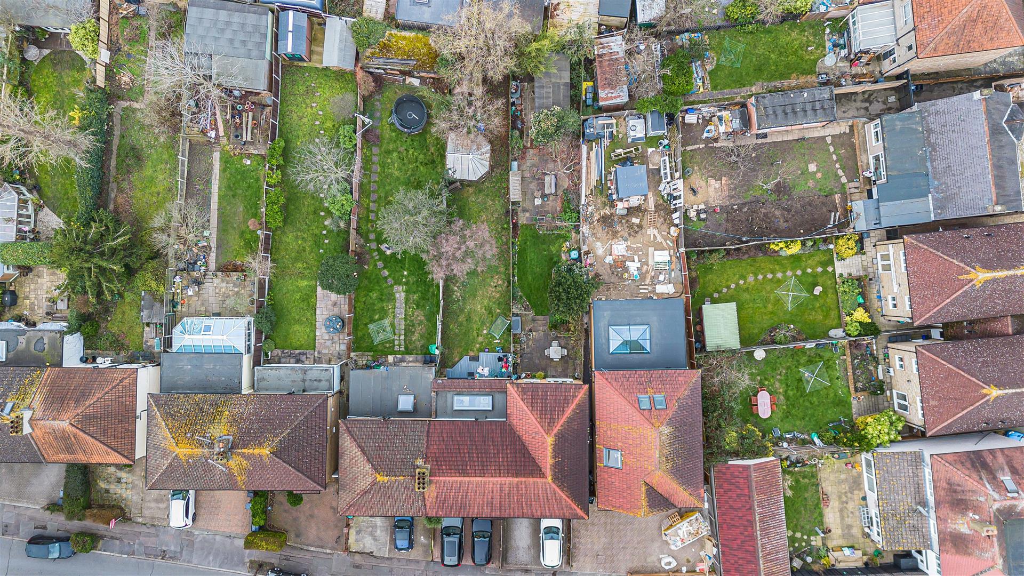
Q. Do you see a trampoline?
Yes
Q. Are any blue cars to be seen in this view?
Yes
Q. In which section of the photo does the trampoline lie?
top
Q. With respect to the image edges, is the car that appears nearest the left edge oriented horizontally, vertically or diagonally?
horizontally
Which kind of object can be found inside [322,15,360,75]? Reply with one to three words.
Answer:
shed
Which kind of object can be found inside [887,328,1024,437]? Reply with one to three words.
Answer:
house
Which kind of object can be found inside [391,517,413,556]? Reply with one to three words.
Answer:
car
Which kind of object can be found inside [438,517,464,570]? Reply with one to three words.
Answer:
car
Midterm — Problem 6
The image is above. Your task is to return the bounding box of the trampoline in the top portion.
[384,88,428,131]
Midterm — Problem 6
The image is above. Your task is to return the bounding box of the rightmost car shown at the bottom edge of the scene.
[540,518,565,570]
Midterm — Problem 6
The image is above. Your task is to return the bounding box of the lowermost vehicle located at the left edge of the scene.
[17,537,71,565]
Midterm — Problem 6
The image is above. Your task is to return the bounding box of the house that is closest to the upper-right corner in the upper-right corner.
[881,0,1024,75]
